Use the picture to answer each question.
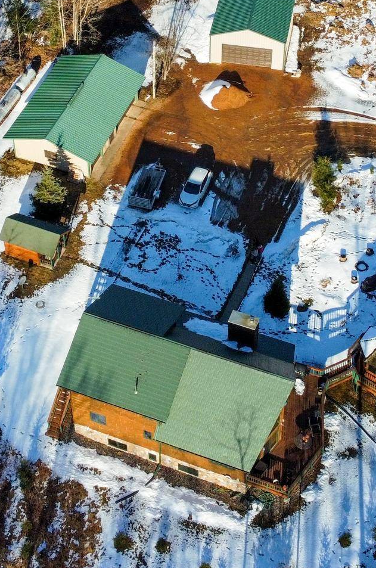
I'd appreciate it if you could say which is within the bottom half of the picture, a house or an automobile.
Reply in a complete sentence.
The feature located within the bottom half of the picture is a house.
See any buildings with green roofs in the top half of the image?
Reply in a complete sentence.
Yes, the scene does show a building with a green roof in the top half of the image.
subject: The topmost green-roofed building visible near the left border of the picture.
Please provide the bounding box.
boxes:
[2,54,146,178]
